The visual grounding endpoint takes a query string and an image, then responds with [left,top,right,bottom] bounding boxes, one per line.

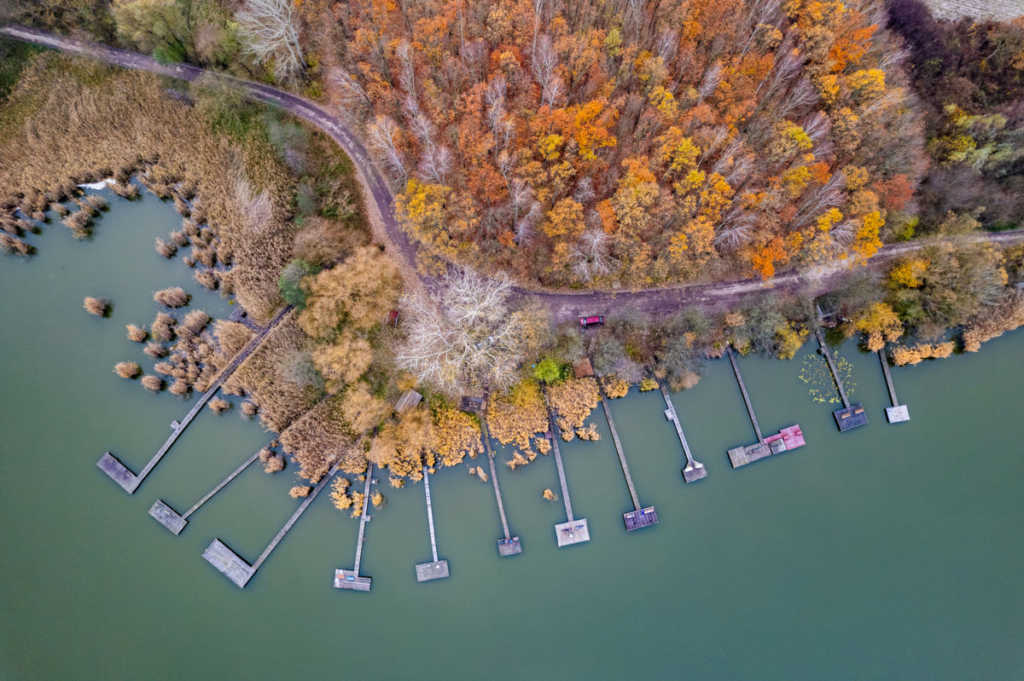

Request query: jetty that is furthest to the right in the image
[876,336,910,423]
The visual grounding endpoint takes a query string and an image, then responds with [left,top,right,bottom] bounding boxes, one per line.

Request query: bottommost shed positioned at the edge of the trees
[395,389,422,414]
